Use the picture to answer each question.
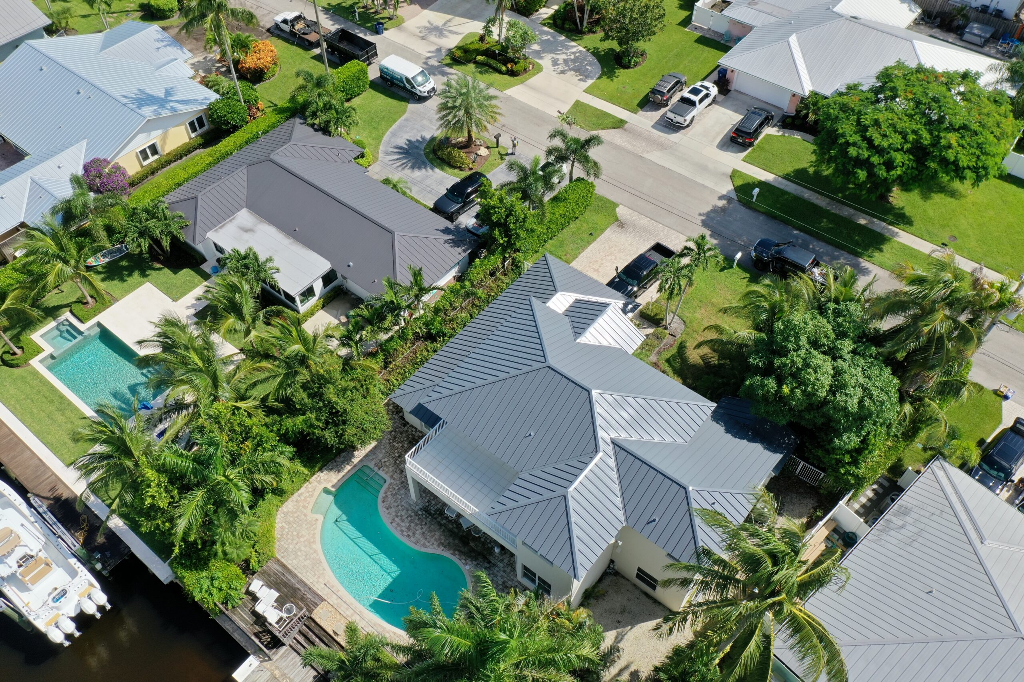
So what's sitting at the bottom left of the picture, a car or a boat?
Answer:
boat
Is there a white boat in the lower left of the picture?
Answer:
Yes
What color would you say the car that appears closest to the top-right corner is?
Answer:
black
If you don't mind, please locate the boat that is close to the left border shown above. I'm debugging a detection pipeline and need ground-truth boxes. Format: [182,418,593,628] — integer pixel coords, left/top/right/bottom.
[0,487,99,635]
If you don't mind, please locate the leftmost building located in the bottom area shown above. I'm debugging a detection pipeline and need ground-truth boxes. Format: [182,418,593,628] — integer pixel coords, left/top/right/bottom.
[388,252,792,612]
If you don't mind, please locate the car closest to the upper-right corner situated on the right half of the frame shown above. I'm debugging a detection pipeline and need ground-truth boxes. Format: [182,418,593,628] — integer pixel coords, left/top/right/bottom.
[730,107,777,147]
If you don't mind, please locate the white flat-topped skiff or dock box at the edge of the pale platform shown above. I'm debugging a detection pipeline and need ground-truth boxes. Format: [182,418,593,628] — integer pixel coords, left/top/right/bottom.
[224,646,265,682]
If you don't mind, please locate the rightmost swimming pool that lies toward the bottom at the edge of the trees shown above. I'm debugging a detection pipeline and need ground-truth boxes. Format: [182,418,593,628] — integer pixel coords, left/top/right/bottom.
[321,465,469,629]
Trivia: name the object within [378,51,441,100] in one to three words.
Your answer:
van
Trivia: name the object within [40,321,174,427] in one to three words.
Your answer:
swimming pool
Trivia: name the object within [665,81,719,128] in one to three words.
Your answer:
truck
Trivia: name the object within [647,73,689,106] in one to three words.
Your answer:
car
